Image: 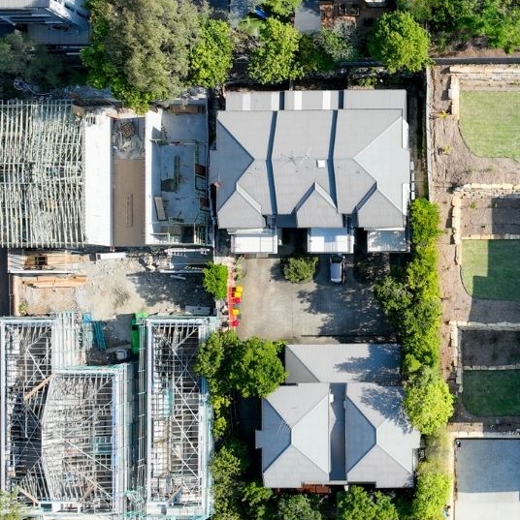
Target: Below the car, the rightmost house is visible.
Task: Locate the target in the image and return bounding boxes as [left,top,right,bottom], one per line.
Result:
[255,343,422,494]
